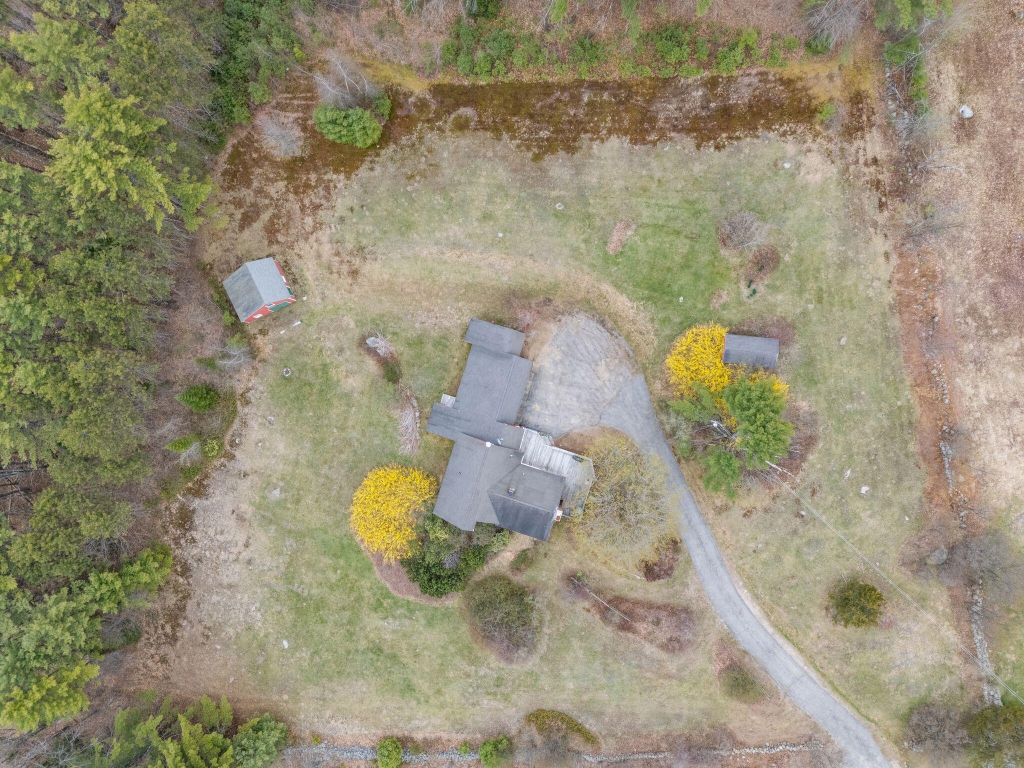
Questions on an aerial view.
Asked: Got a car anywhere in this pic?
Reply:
No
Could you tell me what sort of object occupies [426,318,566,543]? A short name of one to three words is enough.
house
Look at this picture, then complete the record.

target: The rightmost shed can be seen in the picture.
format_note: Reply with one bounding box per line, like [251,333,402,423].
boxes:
[719,334,779,368]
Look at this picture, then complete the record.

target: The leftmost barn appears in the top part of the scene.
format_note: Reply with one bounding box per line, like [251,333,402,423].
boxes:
[224,257,297,324]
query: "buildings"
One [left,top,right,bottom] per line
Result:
[224,257,297,324]
[719,334,779,368]
[426,318,566,543]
